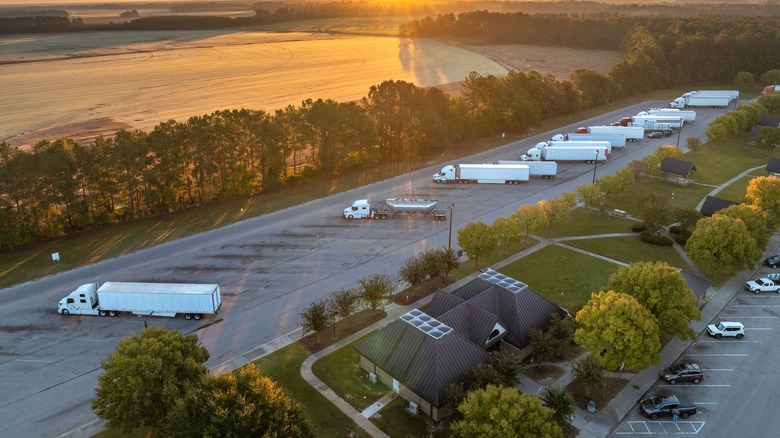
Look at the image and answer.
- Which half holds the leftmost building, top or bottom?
bottom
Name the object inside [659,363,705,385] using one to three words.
car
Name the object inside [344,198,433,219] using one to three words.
truck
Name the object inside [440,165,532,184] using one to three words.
vehicle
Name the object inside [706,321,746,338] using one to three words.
car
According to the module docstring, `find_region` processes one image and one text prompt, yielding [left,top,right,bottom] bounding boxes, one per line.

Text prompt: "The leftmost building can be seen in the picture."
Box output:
[351,266,564,419]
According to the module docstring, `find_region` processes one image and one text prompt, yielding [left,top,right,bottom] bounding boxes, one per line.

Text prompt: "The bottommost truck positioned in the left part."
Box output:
[57,282,213,319]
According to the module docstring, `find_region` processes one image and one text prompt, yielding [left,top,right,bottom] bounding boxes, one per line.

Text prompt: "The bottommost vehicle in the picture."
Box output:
[638,395,696,420]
